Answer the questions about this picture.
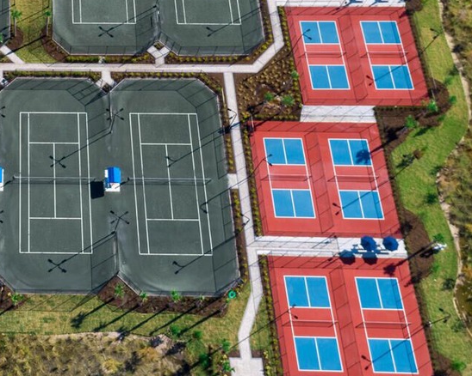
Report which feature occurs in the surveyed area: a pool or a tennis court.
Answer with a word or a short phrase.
tennis court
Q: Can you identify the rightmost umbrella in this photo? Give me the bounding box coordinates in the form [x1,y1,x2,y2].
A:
[381,235,399,251]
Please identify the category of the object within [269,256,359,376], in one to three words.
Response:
sports court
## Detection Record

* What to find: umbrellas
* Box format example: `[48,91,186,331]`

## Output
[381,235,399,251]
[358,235,375,250]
